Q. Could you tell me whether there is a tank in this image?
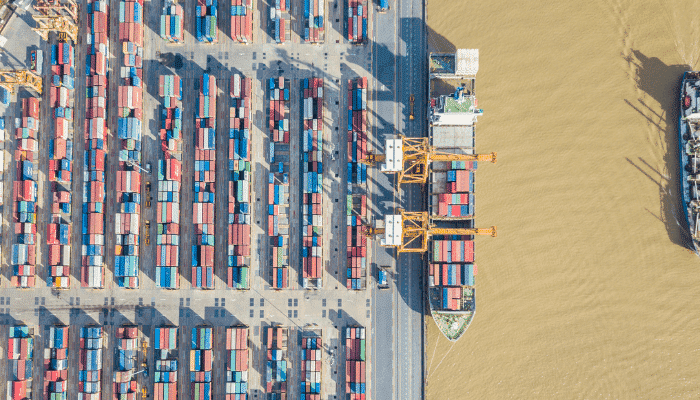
No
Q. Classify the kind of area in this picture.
port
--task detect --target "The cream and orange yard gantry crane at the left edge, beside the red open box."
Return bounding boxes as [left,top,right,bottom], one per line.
[0,66,44,97]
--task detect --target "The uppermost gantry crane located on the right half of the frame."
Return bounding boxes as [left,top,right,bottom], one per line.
[364,136,495,196]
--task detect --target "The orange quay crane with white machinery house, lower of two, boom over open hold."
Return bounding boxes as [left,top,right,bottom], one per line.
[364,209,495,263]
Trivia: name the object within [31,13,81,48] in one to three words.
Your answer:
container crane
